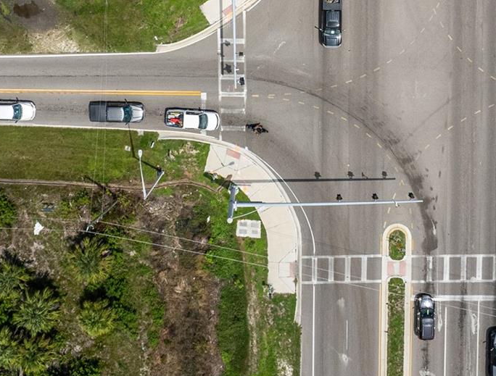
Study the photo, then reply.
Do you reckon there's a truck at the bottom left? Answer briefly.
No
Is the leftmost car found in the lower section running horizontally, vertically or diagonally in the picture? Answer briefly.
vertically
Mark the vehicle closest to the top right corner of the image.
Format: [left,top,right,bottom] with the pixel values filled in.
[318,0,344,48]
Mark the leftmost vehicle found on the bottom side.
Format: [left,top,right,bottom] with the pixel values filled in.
[413,291,438,341]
